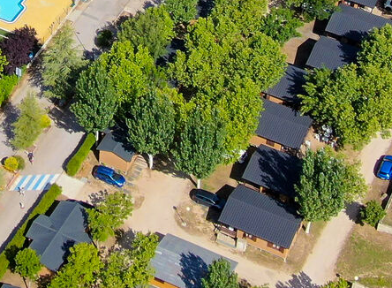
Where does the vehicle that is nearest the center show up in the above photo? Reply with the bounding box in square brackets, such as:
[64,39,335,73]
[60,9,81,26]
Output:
[188,182,225,207]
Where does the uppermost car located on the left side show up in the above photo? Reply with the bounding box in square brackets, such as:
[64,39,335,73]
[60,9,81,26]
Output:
[91,159,128,184]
